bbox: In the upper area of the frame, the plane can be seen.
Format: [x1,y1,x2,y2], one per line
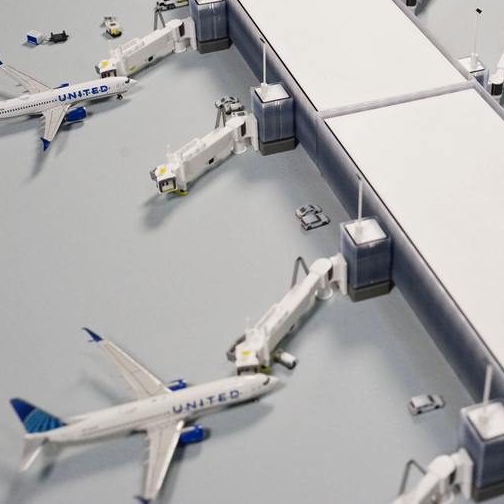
[0,60,136,148]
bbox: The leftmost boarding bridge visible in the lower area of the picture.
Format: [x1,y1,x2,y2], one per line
[227,251,350,376]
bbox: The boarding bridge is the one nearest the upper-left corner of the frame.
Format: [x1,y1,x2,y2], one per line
[94,10,200,77]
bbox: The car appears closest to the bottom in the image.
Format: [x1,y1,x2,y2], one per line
[409,393,443,413]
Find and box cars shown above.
[409,393,443,413]
[295,204,323,218]
[302,213,330,229]
[215,96,239,108]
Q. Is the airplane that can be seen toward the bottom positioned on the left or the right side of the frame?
left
